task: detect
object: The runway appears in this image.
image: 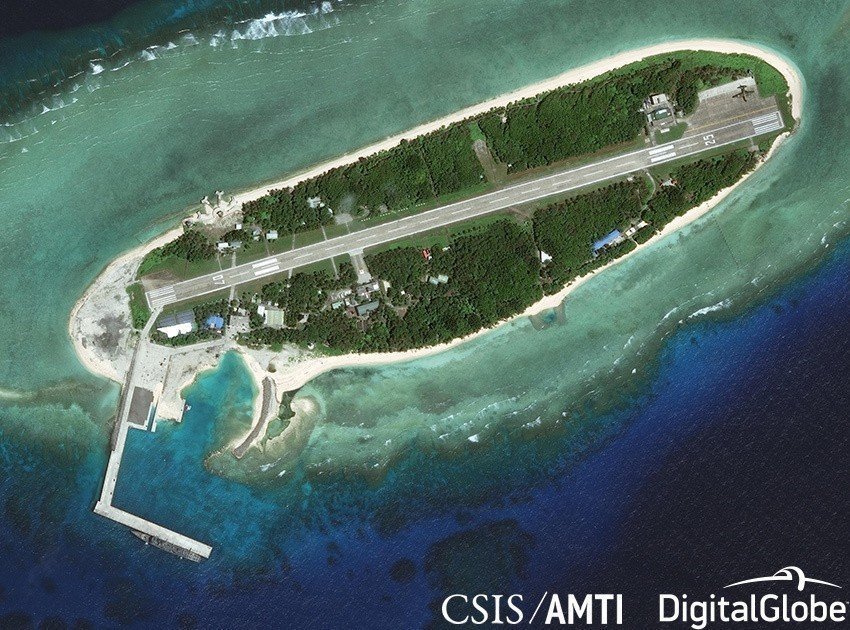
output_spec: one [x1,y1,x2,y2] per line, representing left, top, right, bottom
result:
[147,111,784,309]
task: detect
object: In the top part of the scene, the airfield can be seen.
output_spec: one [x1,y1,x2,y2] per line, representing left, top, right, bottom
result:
[147,77,784,309]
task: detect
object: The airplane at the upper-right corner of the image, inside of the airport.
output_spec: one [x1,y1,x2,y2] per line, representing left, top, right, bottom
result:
[733,85,755,102]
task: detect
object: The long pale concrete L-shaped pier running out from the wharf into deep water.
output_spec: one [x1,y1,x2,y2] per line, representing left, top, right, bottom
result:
[94,427,212,558]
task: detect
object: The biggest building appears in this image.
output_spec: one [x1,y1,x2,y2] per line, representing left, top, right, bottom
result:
[156,312,194,339]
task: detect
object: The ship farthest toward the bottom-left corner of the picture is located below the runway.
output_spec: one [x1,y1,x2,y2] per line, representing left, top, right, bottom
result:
[131,531,201,563]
